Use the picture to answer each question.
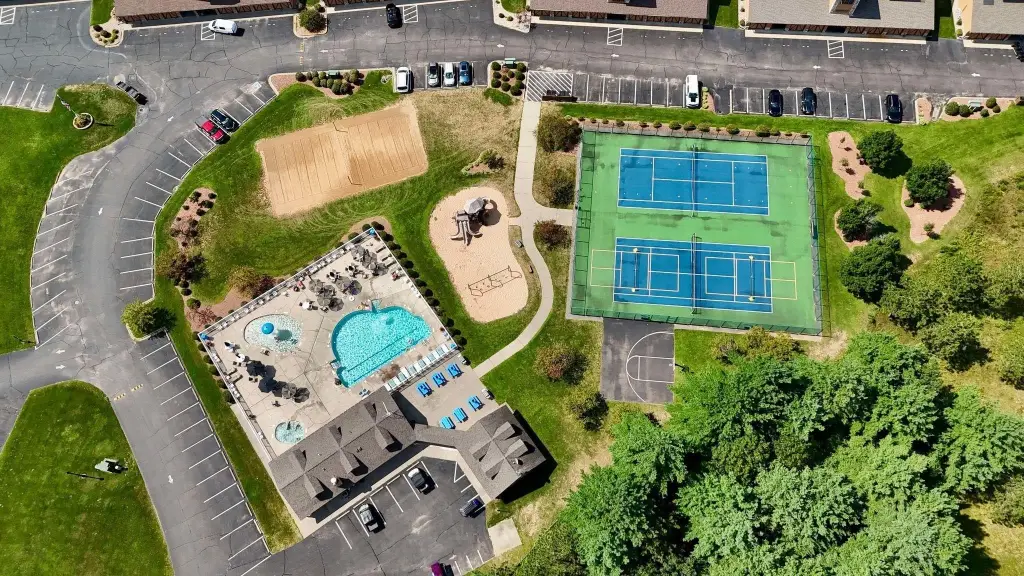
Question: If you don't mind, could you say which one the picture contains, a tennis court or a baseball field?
tennis court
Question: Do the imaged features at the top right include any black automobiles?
Yes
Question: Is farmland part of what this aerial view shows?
No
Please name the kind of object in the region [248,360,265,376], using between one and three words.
umbrella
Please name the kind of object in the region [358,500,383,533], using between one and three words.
car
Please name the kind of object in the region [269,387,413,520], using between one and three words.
building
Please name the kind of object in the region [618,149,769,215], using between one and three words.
tennis court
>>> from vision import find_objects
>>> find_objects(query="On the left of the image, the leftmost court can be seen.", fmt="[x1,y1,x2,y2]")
[256,99,428,217]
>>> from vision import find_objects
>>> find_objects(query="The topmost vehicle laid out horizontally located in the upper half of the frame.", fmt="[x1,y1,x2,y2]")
[209,20,240,36]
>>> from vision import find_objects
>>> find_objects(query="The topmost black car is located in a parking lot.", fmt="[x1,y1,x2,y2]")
[386,5,400,29]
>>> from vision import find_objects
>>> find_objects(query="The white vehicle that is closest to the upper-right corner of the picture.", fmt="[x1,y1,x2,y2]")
[685,72,700,109]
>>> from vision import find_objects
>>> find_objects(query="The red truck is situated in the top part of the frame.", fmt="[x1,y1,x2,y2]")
[197,116,227,142]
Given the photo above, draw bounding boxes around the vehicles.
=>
[212,110,238,133]
[458,61,471,86]
[209,20,240,36]
[427,62,440,87]
[358,500,383,533]
[443,62,456,88]
[456,494,488,521]
[768,90,782,118]
[800,87,816,115]
[1007,40,1024,65]
[197,116,227,142]
[407,466,433,497]
[685,72,700,109]
[428,557,448,576]
[386,5,400,29]
[885,94,902,123]
[396,68,409,94]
